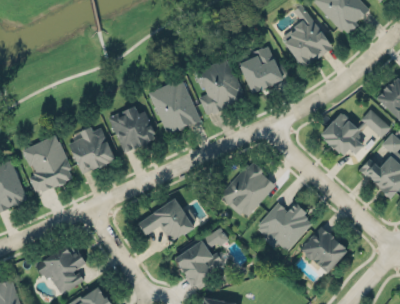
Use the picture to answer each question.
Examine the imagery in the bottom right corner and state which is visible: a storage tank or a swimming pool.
swimming pool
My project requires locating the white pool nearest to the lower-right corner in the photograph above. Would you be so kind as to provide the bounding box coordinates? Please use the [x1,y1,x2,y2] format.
[296,257,326,284]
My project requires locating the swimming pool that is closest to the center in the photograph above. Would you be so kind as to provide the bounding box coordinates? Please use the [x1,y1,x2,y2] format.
[190,200,208,229]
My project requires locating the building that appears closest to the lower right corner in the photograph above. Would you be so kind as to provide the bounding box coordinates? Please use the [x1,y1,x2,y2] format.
[302,228,348,274]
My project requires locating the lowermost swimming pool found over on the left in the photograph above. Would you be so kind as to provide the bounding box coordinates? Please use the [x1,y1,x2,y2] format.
[35,276,56,302]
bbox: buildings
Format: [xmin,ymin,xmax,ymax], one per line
[174,240,214,292]
[0,162,26,212]
[378,80,400,122]
[110,105,154,151]
[38,248,90,298]
[0,280,22,304]
[241,46,284,94]
[206,228,228,250]
[136,198,195,242]
[360,132,400,200]
[302,228,348,274]
[258,204,316,255]
[72,129,113,173]
[315,0,370,36]
[24,138,73,188]
[150,79,202,134]
[72,288,110,304]
[225,166,278,220]
[283,6,332,66]
[320,108,393,160]
[196,62,242,117]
